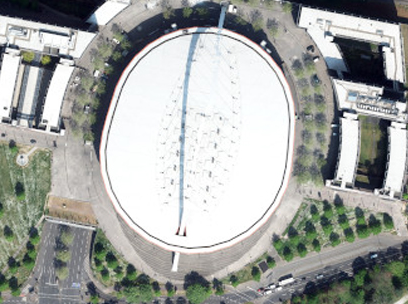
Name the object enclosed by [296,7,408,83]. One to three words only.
building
